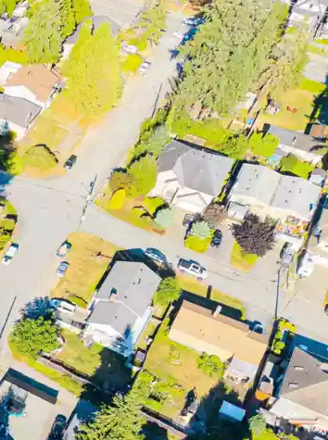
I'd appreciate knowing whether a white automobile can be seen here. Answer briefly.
Yes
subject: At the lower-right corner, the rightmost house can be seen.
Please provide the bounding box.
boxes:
[268,345,328,438]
